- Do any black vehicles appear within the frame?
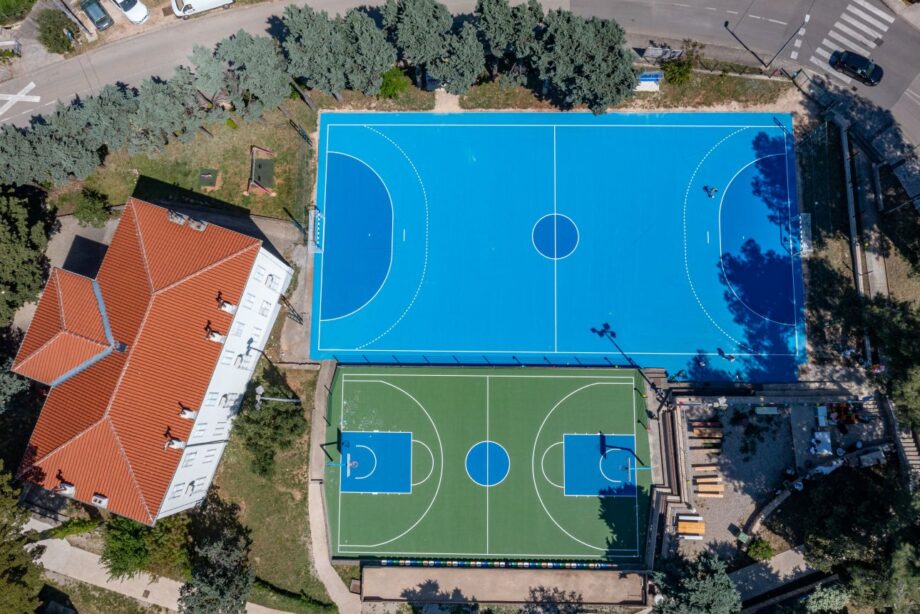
Yes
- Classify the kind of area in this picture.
sports ground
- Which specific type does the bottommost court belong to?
basketball court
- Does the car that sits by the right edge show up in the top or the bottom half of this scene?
top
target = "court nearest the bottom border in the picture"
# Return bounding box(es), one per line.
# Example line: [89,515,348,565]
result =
[328,368,651,566]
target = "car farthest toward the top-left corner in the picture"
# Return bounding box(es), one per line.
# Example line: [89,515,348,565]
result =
[79,0,114,31]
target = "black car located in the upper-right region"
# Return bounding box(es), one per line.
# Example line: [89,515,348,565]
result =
[827,49,887,84]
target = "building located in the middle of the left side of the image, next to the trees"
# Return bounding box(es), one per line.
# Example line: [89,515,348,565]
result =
[8,195,296,529]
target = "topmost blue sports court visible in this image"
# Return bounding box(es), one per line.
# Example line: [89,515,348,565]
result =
[310,111,807,384]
